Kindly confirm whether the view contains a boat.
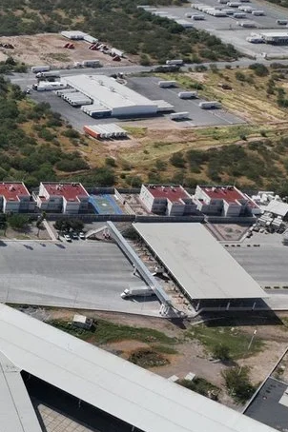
No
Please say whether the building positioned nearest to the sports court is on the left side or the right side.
left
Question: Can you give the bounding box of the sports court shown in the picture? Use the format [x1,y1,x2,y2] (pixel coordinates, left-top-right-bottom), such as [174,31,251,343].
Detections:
[90,191,124,215]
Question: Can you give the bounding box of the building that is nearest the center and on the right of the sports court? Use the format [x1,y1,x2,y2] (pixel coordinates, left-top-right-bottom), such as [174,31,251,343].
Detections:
[136,184,200,217]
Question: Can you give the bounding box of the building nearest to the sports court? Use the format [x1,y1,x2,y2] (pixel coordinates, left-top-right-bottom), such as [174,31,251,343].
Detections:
[37,181,97,215]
